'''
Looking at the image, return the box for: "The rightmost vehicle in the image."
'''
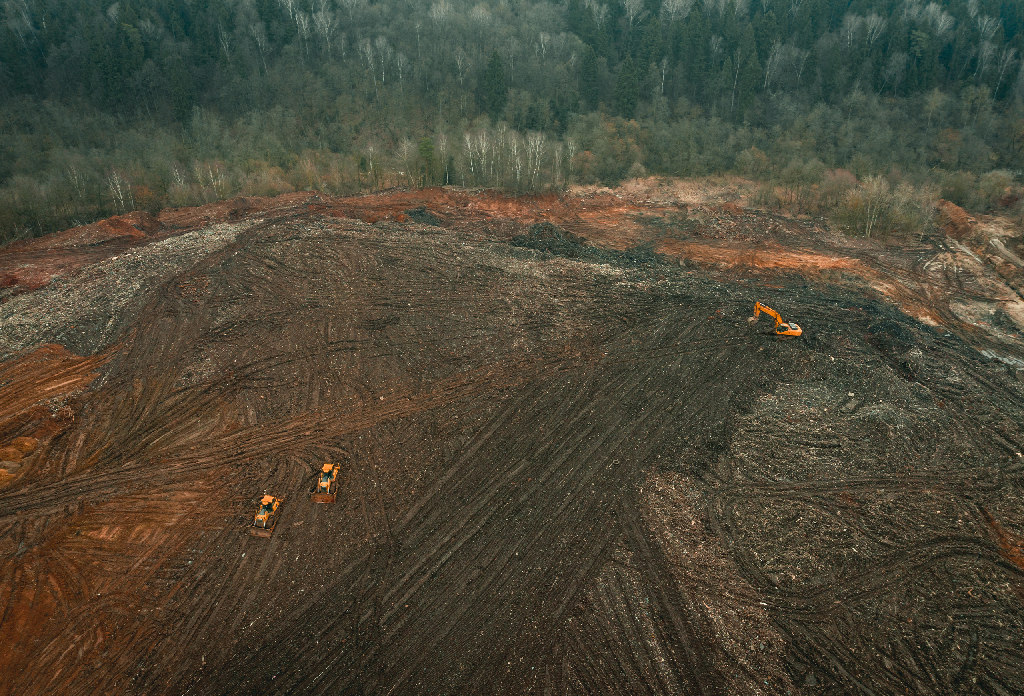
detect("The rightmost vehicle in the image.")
[749,303,803,345]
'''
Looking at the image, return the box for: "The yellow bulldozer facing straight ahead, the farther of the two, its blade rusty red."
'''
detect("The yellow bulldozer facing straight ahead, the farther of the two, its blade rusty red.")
[311,466,339,505]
